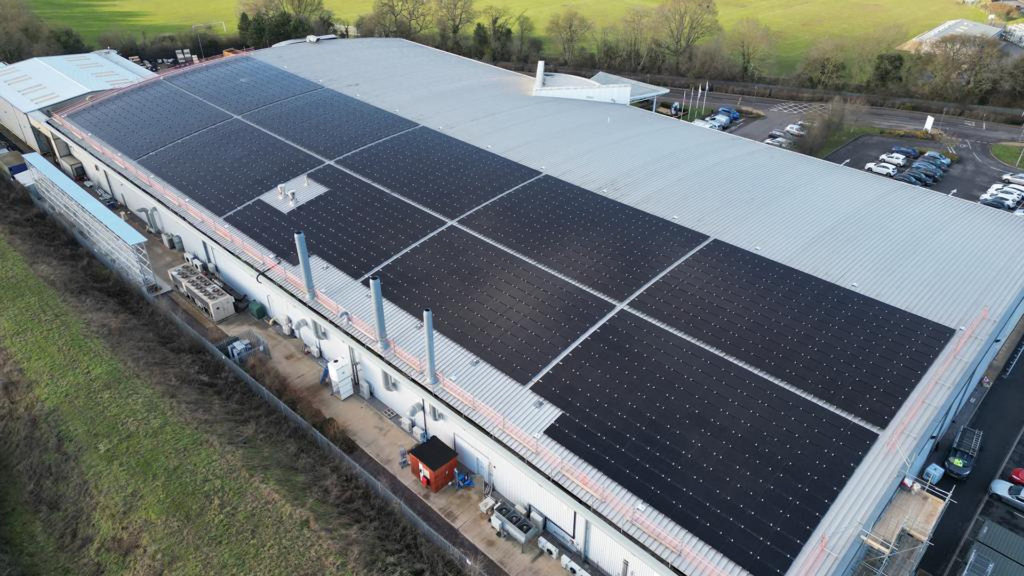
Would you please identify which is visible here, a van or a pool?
van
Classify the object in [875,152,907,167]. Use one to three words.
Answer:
car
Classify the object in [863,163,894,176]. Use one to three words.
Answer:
vehicle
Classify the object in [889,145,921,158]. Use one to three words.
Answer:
vehicle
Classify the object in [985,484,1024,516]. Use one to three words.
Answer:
car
